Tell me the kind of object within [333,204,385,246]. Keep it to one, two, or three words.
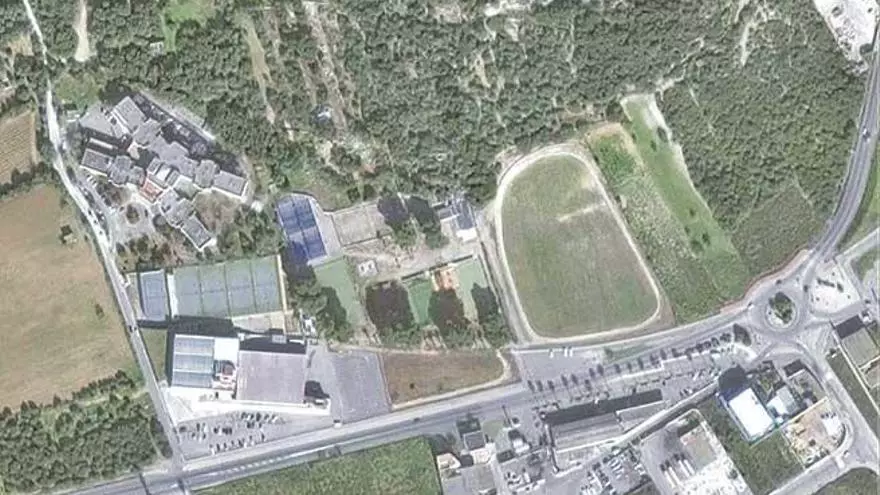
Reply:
sports court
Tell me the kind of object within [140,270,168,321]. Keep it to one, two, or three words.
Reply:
tennis court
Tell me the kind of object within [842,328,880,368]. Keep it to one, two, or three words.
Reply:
building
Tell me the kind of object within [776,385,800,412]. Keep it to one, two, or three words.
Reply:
house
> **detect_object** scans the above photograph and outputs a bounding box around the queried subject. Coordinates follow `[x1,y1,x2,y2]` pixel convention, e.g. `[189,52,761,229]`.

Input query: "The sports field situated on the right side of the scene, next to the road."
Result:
[495,150,660,342]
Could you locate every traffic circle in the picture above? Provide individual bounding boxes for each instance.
[751,277,813,339]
